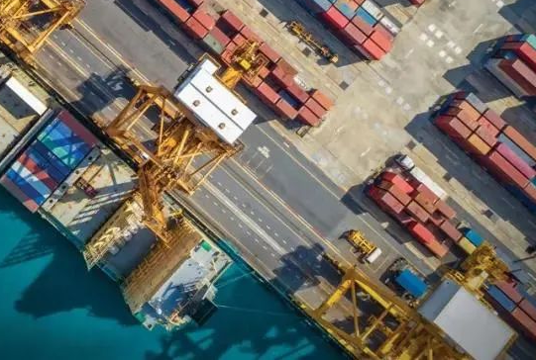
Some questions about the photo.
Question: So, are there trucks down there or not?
Yes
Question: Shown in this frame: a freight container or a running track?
freight container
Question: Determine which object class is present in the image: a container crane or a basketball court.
container crane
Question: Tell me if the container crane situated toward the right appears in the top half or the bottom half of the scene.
bottom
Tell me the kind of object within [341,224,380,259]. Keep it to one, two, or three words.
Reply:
work vehicle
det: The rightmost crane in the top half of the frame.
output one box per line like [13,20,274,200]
[93,35,270,247]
